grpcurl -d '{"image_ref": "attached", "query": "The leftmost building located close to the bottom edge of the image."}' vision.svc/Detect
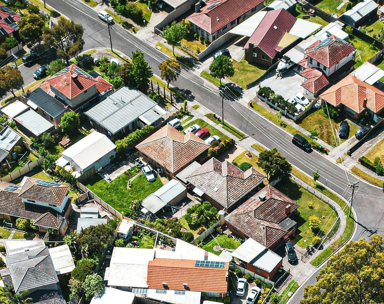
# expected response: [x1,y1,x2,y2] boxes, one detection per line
[1,240,77,304]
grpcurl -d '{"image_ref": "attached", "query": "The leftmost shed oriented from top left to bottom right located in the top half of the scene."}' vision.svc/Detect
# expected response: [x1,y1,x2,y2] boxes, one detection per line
[5,91,55,145]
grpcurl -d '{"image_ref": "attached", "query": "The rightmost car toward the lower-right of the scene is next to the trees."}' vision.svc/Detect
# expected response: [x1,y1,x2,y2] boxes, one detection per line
[285,242,297,264]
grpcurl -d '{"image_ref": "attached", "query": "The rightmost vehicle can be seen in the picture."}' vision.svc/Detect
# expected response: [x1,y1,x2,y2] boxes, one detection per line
[352,126,375,140]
